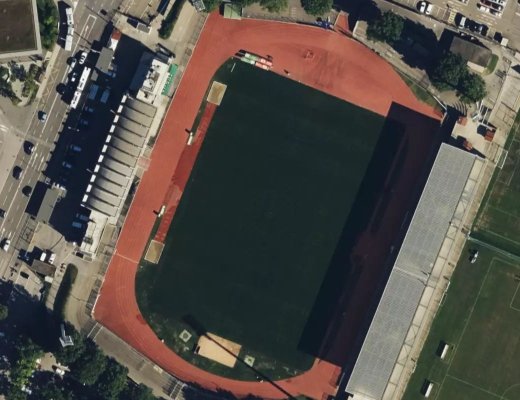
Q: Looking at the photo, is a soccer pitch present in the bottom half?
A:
Yes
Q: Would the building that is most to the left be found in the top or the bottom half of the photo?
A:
top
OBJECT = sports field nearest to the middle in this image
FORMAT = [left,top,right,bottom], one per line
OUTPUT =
[135,57,405,381]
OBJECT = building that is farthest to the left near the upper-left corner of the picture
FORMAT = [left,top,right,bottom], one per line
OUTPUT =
[0,0,43,62]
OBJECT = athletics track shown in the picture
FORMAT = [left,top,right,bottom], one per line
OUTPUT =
[93,11,444,400]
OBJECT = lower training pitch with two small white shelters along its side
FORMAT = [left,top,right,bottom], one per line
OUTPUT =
[401,234,520,400]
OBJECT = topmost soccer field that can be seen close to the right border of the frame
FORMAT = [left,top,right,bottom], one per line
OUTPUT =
[470,114,520,252]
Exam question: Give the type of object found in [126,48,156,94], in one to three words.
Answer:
building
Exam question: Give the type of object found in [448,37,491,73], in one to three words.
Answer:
house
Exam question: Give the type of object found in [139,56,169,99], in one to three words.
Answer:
building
